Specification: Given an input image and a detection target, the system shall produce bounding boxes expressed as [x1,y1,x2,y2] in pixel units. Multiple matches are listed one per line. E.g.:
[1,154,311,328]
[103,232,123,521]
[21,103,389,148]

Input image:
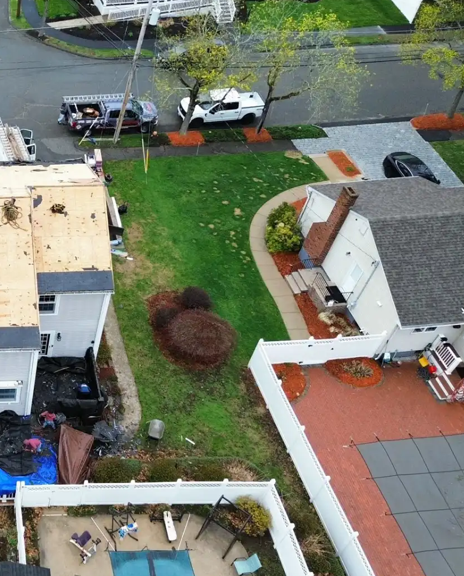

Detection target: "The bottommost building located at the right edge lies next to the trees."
[284,174,464,369]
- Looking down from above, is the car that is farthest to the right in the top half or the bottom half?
top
